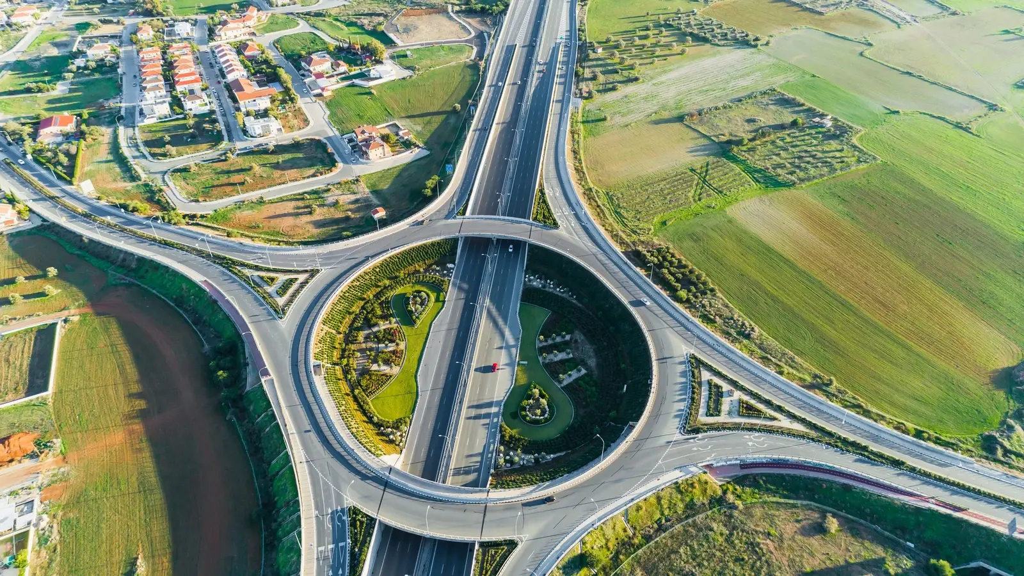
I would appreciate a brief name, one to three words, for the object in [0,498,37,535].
shed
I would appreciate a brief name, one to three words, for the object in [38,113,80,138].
house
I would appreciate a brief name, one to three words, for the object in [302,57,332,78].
house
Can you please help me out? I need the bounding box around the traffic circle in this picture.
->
[32,14,767,576]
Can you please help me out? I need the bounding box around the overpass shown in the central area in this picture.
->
[448,213,565,255]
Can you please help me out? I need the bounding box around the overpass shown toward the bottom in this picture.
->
[339,476,542,554]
